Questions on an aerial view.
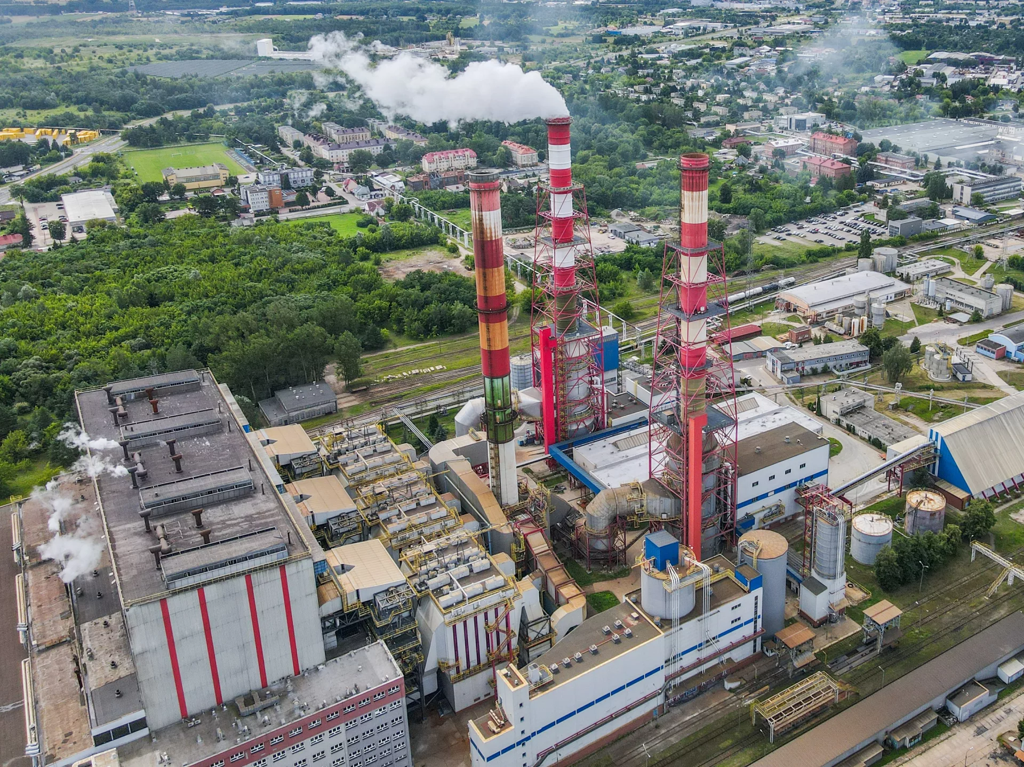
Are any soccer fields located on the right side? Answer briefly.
No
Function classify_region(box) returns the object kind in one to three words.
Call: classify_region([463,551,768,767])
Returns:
building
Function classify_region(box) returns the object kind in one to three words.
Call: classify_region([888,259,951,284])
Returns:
building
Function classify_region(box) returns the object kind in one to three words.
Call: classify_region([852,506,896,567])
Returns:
storage tank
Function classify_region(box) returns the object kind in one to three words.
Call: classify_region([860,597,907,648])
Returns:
shed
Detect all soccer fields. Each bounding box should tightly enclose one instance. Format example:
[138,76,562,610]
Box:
[134,142,239,174]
